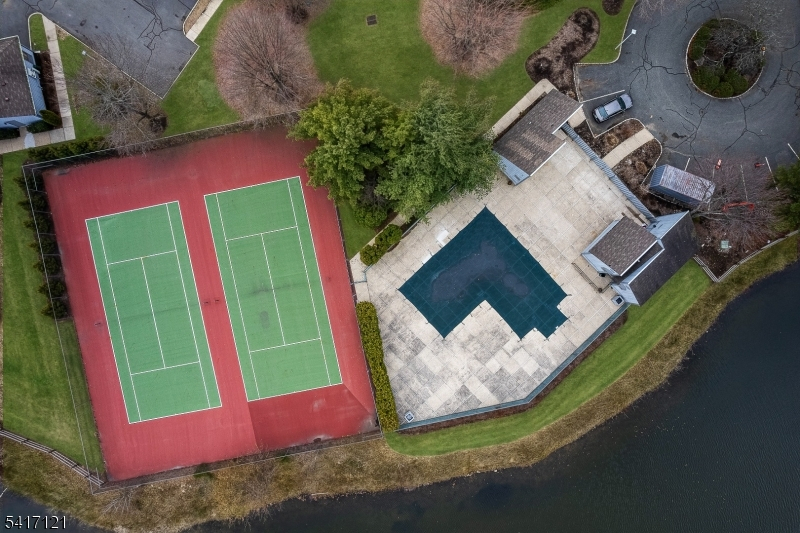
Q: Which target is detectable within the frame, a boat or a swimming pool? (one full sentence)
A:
It is a swimming pool that can be seen here.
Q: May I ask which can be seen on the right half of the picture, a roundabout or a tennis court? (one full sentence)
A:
There is a roundabout on the right half of the picture.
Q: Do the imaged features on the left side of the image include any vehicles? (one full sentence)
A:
No, I see no vehicle on the left side of the image.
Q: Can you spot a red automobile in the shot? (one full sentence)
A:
No, I can't see a single red automobile in this photo.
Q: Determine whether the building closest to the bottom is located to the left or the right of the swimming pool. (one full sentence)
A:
The swimming pool has the building closest to the bottom on its right side.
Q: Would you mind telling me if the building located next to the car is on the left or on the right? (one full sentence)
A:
The building located next to the car is on the right side of the image.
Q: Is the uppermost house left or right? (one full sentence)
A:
You can find the uppermost house on the left side of the picture.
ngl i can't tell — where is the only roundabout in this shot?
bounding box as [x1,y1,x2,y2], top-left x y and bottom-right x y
[684,16,766,98]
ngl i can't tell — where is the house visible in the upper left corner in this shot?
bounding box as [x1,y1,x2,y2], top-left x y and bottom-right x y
[0,34,47,132]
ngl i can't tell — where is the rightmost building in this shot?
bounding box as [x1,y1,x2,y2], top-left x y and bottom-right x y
[584,210,699,306]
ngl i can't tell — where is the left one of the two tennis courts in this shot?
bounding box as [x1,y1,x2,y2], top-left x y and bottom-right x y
[85,201,222,424]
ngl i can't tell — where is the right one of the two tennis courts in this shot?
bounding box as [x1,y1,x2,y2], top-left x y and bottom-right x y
[204,177,342,402]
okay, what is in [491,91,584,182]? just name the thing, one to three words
building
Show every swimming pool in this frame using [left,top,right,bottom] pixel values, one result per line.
[398,204,570,342]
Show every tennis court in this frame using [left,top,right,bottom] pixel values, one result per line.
[85,201,222,424]
[204,177,342,402]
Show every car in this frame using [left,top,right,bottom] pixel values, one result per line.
[592,94,634,122]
